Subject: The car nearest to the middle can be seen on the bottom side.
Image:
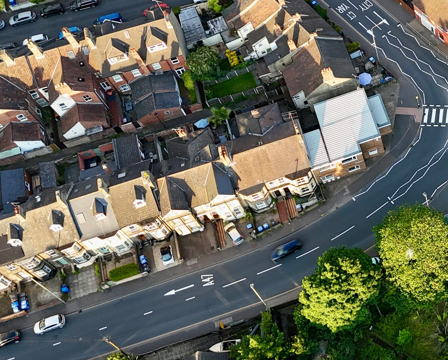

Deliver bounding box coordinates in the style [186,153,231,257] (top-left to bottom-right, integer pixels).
[223,221,244,248]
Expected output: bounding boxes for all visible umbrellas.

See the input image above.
[359,72,374,87]
[193,117,209,131]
